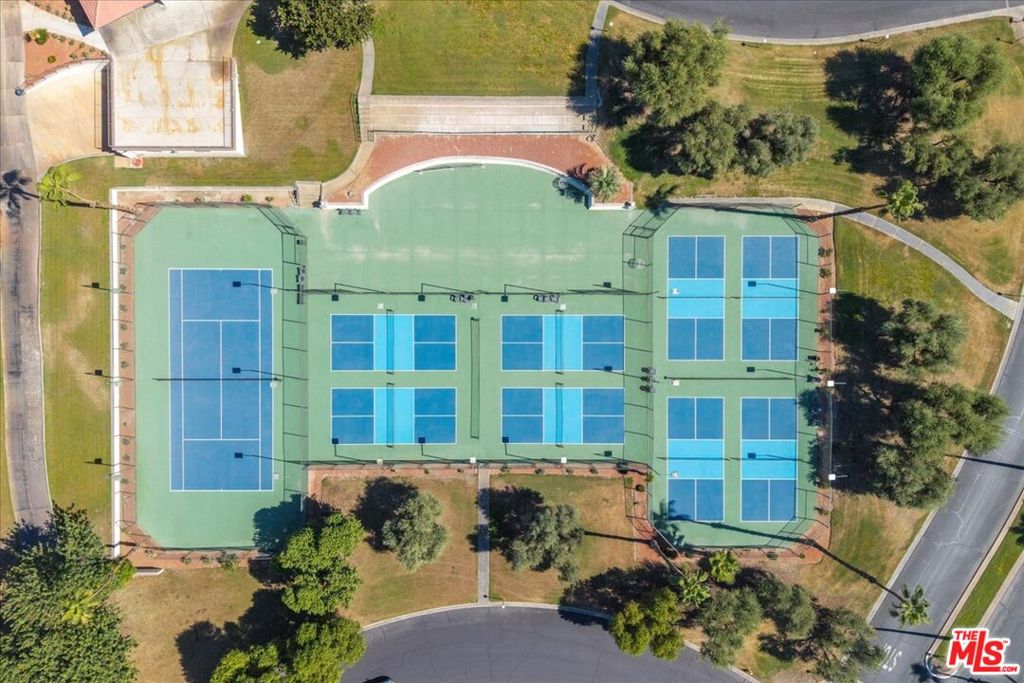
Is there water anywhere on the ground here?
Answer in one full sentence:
No, there's no water in this view.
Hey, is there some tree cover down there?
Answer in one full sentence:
Yes, there's tree cover in this view.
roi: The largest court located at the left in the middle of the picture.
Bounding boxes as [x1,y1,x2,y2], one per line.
[156,268,282,492]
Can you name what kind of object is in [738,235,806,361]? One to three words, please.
sports court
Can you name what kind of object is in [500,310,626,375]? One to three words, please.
sports court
